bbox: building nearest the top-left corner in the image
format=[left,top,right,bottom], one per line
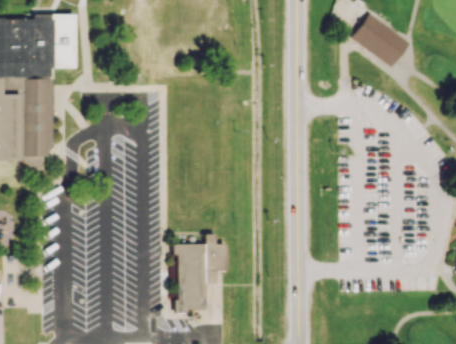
[0,14,79,170]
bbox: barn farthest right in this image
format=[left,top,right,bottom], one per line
[352,12,410,67]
